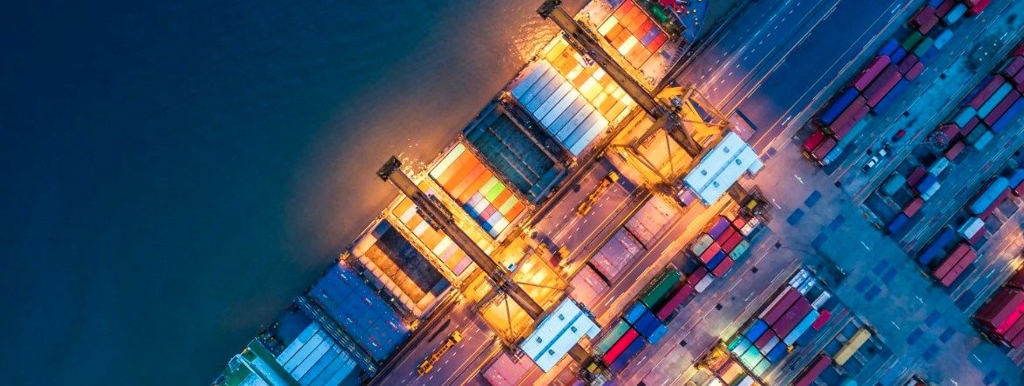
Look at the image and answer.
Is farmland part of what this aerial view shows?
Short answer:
No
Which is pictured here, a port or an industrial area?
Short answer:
port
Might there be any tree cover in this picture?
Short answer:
No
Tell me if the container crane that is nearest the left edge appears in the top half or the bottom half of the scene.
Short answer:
bottom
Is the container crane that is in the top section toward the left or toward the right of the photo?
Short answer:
right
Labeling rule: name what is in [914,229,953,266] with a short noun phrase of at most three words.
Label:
shipping container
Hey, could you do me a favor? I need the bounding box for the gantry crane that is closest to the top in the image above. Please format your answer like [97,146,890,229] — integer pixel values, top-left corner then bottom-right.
[539,0,793,238]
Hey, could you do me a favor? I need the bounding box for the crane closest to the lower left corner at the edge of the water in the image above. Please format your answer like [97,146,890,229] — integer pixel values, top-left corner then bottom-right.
[376,156,634,386]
